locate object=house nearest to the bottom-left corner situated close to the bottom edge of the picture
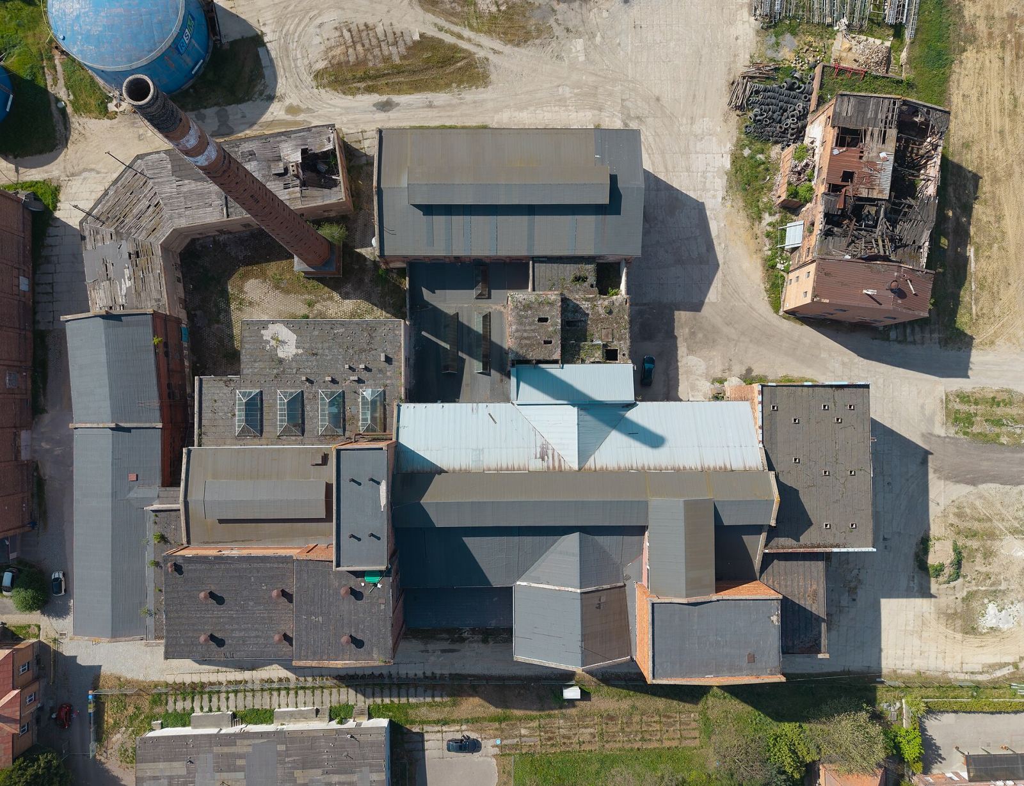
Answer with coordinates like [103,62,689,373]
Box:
[0,633,55,765]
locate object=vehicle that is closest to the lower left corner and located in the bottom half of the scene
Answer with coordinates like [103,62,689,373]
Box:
[56,701,75,730]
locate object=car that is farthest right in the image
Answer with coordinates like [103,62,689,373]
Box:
[639,354,655,386]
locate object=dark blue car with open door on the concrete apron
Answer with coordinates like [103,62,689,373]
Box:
[447,731,481,753]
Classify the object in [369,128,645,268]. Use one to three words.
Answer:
building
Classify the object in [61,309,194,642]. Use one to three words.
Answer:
building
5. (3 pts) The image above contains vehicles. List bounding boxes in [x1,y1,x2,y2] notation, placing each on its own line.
[639,354,655,386]
[0,566,19,596]
[447,731,481,753]
[50,569,68,596]
[56,701,75,730]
